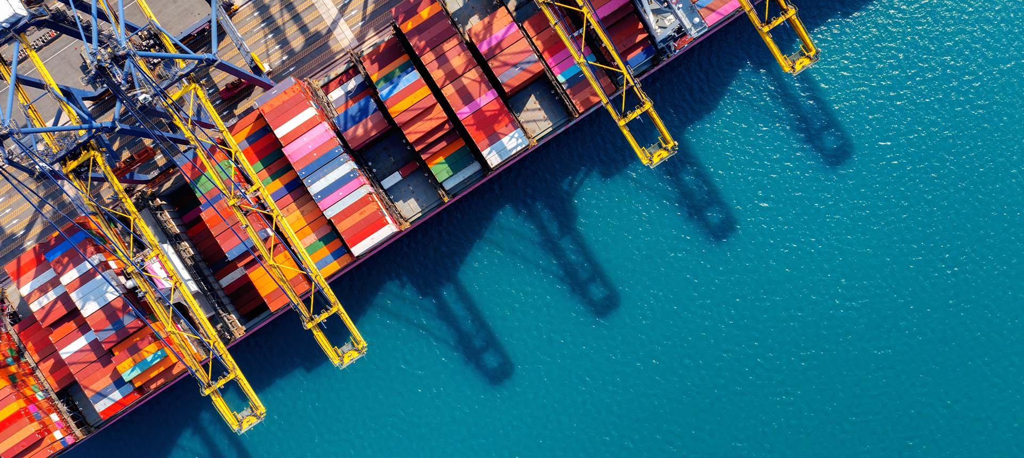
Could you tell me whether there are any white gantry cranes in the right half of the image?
No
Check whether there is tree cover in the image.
No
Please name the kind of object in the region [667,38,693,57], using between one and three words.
boat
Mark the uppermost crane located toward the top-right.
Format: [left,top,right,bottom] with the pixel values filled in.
[742,0,823,80]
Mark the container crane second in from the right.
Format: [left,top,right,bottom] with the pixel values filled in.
[535,0,679,174]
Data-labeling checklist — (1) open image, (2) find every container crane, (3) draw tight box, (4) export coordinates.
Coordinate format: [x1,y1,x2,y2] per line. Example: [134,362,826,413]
[59,0,368,374]
[535,0,679,174]
[742,0,823,80]
[0,0,269,437]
